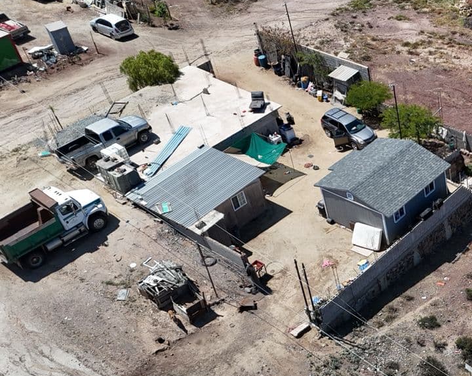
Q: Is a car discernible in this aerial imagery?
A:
Yes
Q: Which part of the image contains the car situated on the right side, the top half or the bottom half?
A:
top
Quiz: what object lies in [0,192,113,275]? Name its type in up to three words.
truck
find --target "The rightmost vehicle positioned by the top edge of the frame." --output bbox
[91,15,129,39]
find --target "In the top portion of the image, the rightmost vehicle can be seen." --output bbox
[318,108,378,150]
